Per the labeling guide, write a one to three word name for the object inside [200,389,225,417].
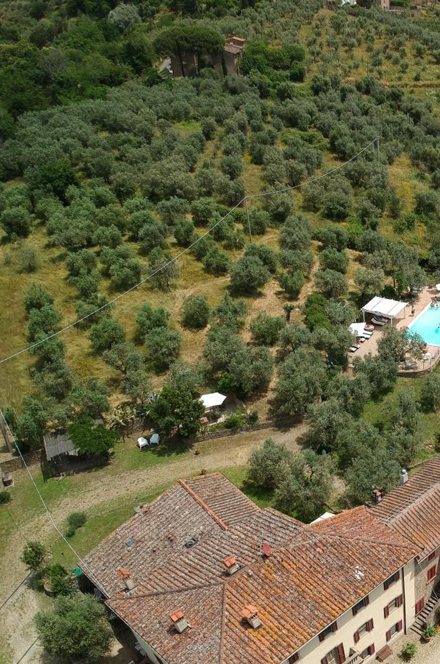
umbrella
